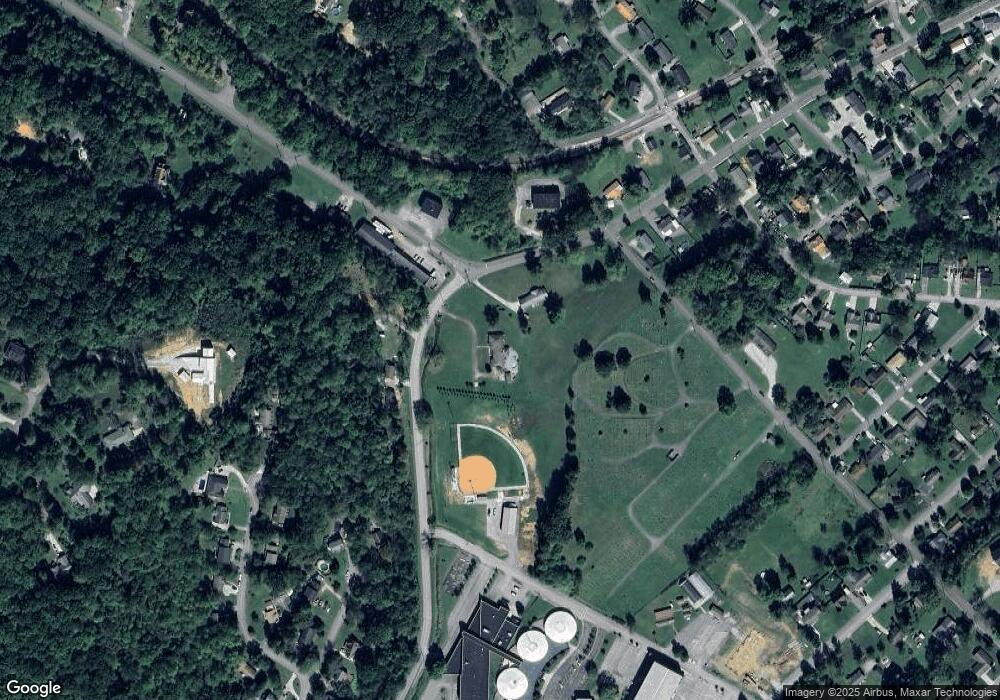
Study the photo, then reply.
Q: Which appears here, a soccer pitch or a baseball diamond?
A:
baseball diamond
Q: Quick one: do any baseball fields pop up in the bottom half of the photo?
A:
Yes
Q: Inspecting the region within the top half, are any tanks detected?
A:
No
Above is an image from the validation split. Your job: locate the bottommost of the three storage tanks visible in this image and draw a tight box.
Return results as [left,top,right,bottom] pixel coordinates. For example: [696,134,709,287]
[497,668,528,700]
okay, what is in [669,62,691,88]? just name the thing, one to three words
house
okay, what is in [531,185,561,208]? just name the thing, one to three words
building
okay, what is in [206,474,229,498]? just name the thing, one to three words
house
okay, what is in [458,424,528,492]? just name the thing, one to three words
baseball field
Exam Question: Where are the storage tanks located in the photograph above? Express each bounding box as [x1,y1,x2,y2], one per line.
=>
[517,631,549,662]
[497,668,528,700]
[544,610,577,644]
